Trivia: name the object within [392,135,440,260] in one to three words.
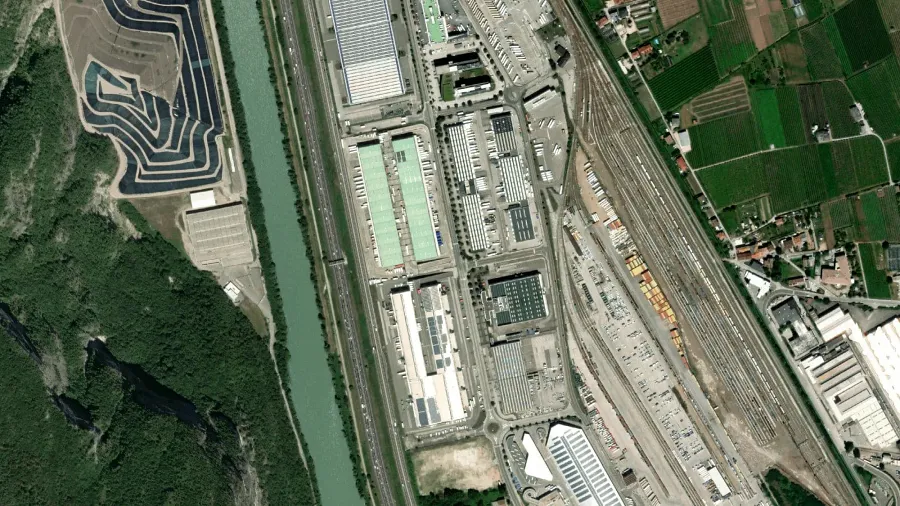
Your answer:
building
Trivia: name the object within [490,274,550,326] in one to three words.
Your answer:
building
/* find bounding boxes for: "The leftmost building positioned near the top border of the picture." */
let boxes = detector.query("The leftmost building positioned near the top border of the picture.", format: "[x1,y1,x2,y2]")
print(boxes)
[330,0,405,105]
